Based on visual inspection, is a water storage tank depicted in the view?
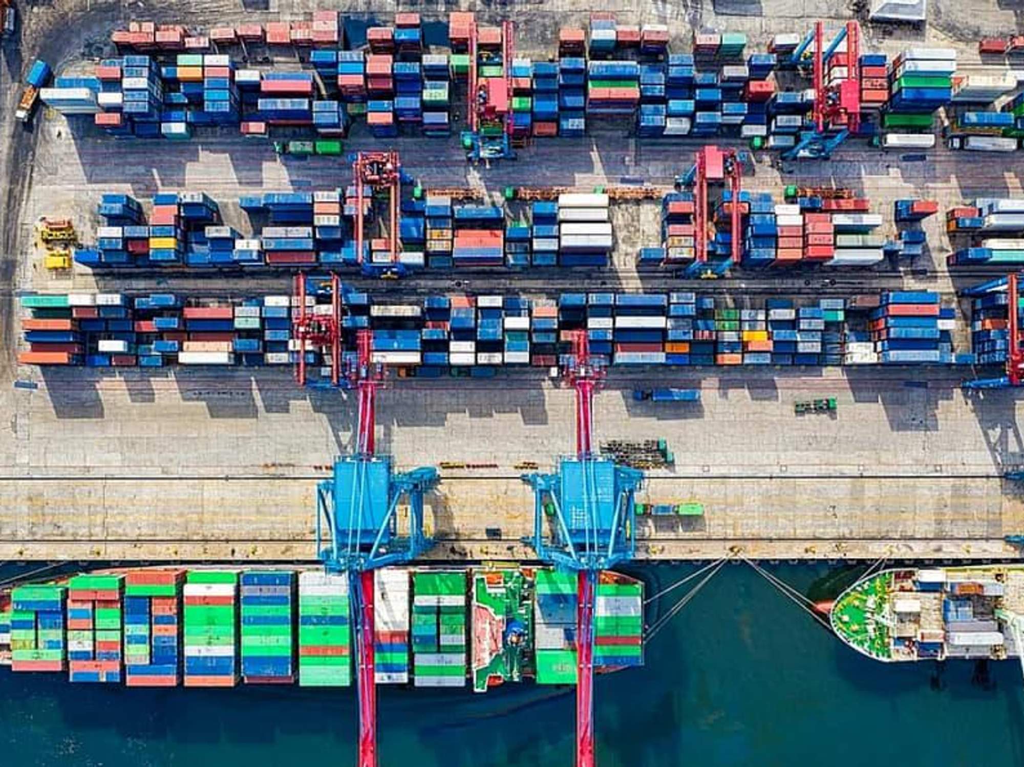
No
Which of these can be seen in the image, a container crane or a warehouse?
container crane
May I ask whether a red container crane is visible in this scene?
Yes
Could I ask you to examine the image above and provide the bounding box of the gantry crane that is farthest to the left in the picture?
[294,273,362,394]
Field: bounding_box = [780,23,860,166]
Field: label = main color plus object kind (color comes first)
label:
red container crane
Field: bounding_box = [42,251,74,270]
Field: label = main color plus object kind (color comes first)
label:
yellow work vehicle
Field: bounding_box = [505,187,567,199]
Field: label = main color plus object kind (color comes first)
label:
green vehicle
